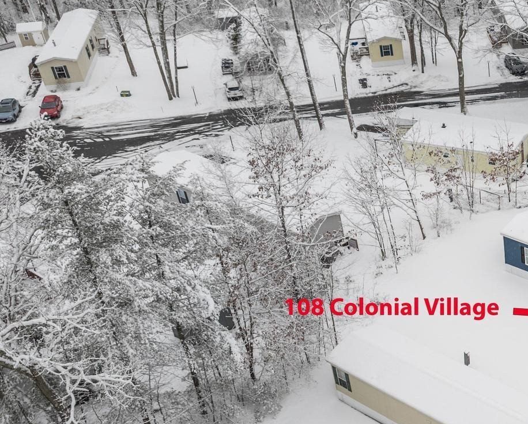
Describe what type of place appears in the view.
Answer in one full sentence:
This image shows a residential area.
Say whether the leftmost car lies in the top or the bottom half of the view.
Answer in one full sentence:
Seen from above, the leftmost car lies in the top half of the view.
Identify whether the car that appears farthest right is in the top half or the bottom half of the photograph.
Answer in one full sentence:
The car that appears farthest right is in the top half of the image.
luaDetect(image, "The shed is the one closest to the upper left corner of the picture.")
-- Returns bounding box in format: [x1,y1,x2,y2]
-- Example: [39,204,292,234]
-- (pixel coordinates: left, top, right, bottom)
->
[13,21,50,46]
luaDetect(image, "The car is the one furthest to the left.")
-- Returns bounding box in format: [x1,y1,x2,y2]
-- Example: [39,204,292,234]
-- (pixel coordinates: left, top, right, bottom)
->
[0,96,23,120]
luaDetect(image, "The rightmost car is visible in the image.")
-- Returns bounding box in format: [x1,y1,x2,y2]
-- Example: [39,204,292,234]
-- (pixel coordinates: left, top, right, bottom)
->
[504,50,528,74]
